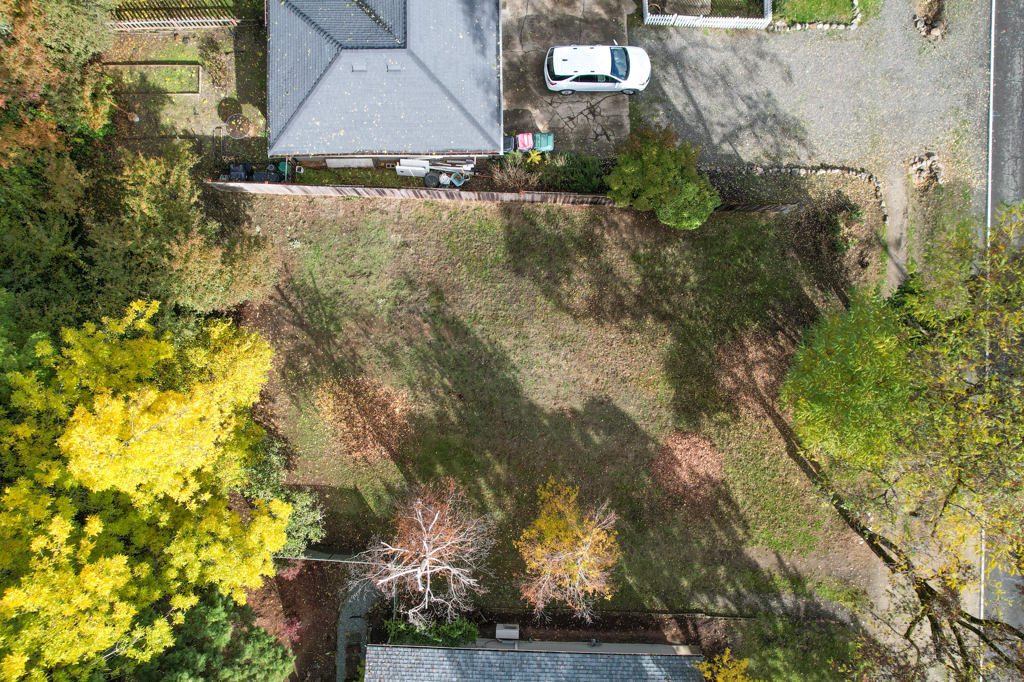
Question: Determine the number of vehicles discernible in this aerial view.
1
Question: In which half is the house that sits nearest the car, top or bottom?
top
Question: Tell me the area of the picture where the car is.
top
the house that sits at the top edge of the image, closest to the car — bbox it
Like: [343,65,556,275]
[264,0,505,160]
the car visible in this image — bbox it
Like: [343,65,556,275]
[544,39,652,97]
